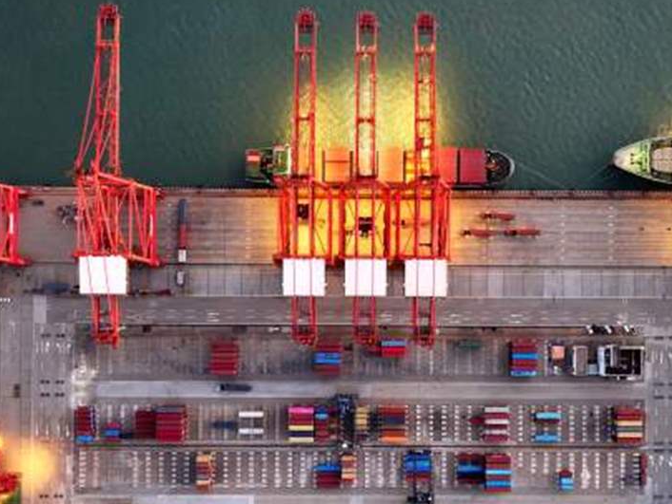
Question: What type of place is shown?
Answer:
port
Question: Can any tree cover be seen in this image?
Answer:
No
